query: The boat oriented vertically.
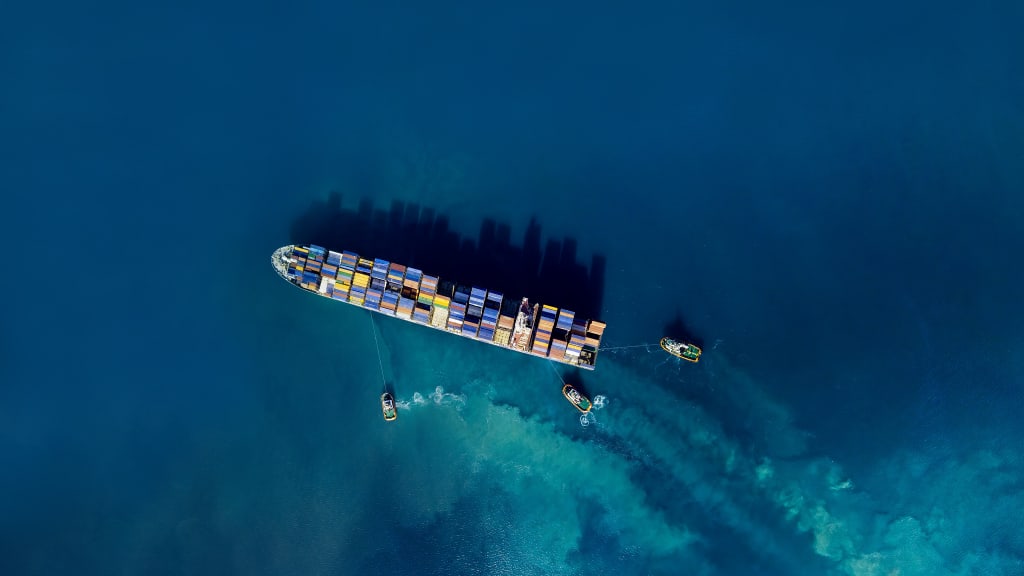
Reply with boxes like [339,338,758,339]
[381,393,396,421]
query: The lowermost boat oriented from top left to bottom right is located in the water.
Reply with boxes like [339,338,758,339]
[565,384,591,413]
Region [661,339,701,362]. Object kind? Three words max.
boat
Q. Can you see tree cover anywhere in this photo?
No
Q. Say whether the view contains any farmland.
No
